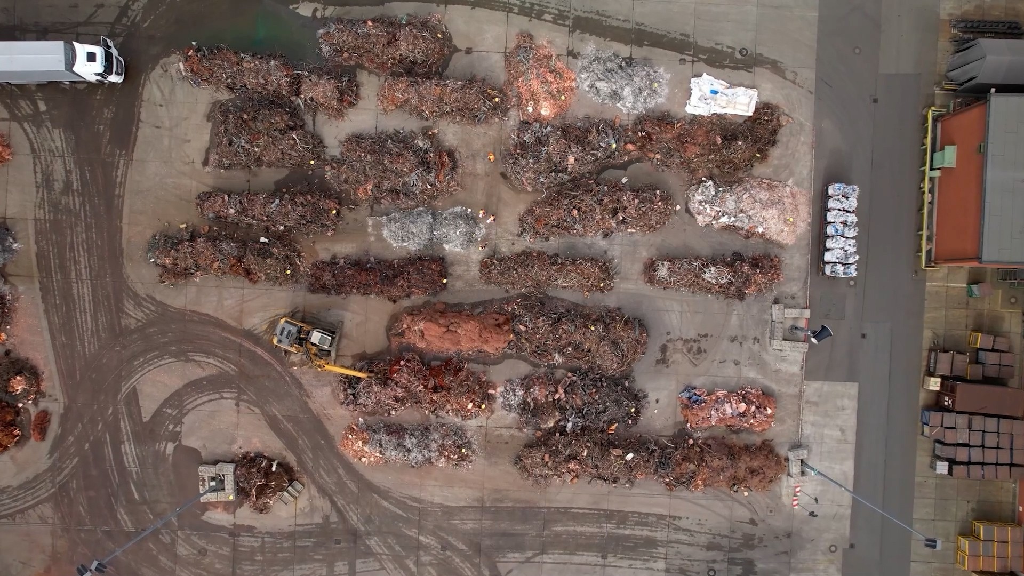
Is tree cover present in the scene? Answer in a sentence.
No, no tree cover is visible.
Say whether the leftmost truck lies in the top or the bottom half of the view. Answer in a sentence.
The top half of the photo is where the leftmost truck is.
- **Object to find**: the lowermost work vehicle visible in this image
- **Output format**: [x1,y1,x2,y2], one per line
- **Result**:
[271,313,381,386]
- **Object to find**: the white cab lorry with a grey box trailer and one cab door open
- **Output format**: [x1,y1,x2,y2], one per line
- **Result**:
[0,36,125,83]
